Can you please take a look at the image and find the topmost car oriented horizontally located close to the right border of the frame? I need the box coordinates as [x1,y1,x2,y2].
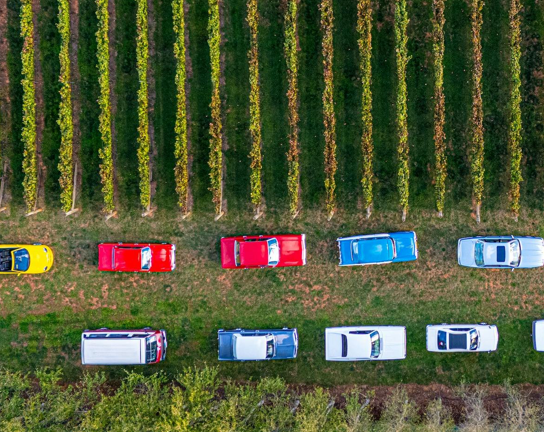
[458,234,544,272]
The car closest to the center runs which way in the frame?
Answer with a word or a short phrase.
from side to side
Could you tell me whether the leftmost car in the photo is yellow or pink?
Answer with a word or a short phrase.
yellow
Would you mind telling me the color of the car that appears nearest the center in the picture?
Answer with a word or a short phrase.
red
